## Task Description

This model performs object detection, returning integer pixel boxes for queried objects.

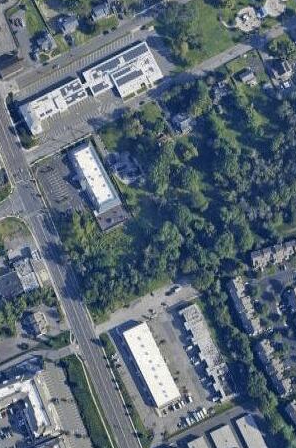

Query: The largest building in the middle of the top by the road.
[83,42,164,101]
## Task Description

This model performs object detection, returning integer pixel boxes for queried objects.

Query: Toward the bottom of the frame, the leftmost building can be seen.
[0,271,24,300]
